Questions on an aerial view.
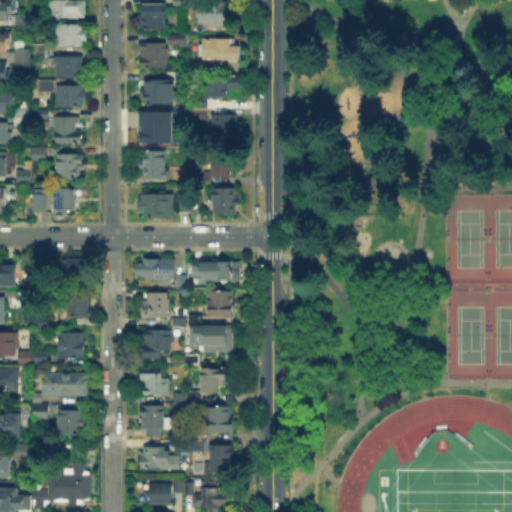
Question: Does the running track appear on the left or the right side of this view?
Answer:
right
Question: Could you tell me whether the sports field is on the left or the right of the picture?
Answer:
right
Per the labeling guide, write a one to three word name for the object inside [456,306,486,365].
tennis court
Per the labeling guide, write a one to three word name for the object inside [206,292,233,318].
house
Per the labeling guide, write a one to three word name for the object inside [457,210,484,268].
tennis court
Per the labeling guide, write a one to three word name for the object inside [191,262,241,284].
house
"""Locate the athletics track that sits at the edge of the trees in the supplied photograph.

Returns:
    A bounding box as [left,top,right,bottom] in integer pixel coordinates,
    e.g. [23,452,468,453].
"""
[338,394,512,512]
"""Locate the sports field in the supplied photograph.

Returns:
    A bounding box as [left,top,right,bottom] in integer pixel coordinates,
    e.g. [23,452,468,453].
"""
[360,421,512,512]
